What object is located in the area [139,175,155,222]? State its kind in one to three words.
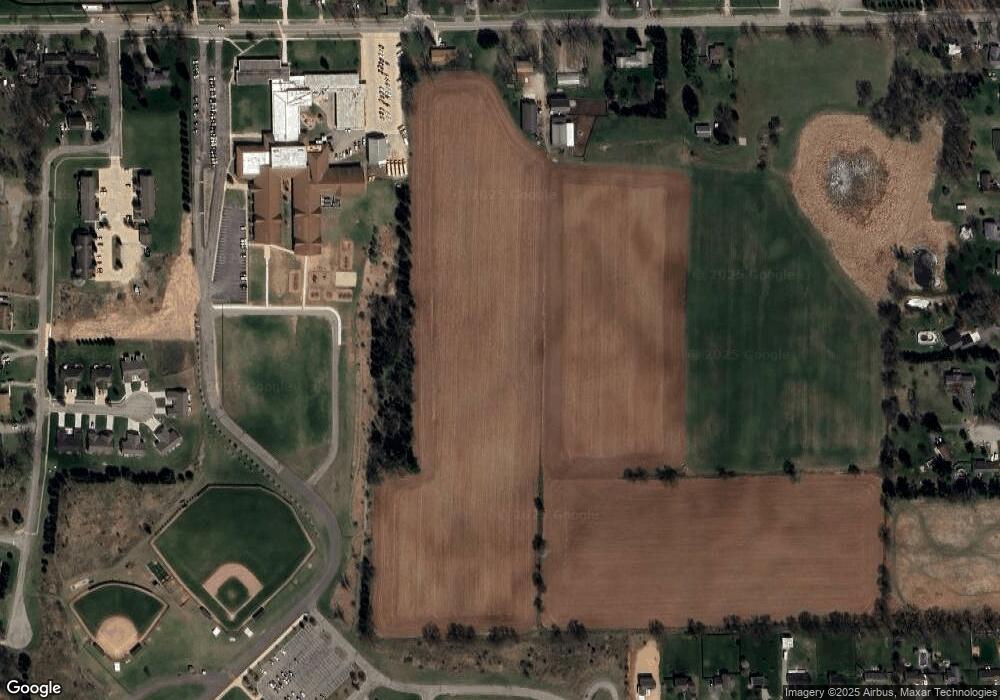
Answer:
building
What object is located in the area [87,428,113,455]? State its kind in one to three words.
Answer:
house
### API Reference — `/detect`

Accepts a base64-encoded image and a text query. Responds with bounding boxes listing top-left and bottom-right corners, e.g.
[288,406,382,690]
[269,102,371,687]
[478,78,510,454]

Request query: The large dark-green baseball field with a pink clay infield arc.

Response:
[150,486,314,630]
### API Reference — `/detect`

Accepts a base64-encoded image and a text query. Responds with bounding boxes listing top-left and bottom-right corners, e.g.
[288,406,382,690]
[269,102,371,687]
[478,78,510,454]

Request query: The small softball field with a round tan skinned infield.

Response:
[70,583,169,660]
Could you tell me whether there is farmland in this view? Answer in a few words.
Yes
